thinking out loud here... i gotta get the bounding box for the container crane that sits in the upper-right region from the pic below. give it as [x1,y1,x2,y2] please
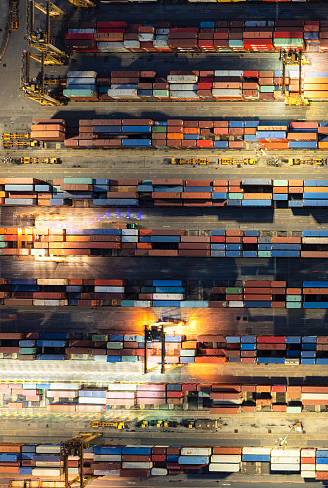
[279,46,314,105]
